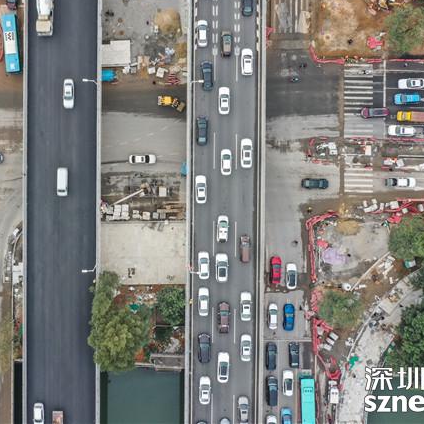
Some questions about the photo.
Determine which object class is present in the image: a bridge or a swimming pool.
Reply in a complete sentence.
Of the two, only a bridge appears.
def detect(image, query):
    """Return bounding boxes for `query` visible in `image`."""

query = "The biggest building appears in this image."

[102,45,131,69]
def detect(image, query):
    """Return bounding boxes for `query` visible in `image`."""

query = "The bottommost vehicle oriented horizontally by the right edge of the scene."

[385,176,415,190]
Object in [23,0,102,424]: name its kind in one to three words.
bridge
